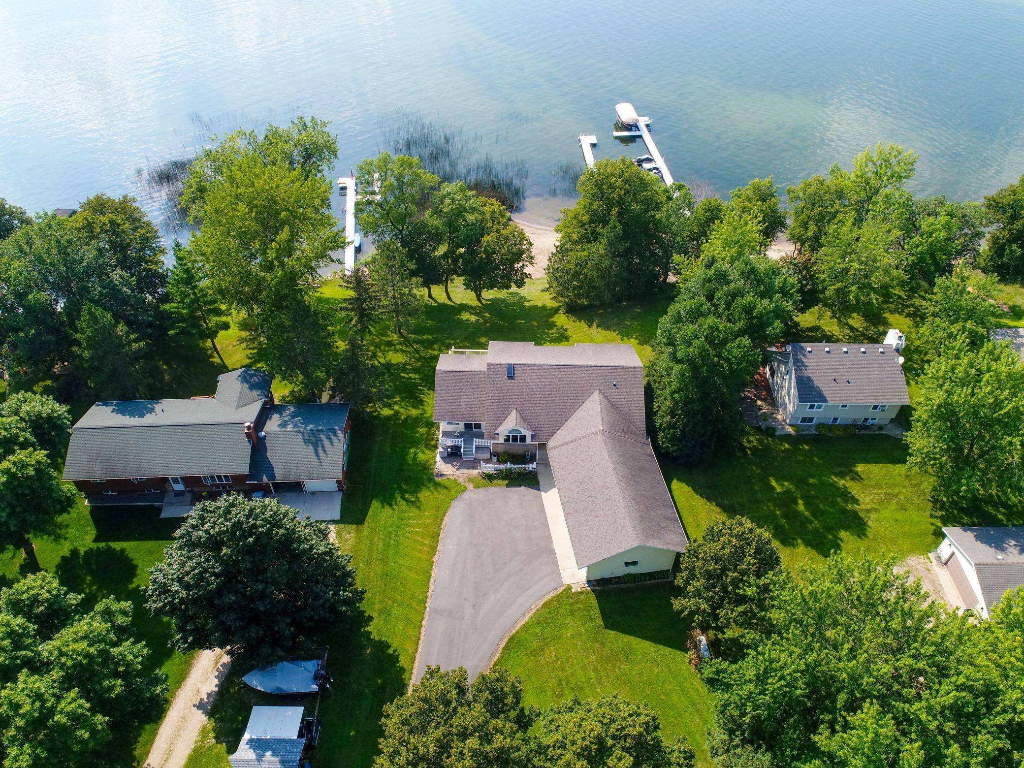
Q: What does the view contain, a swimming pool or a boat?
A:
boat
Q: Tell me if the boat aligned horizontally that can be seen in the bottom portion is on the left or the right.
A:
left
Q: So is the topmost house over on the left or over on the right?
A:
right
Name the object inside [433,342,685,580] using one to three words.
house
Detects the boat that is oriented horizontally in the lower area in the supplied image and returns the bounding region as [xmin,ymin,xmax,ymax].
[243,662,327,692]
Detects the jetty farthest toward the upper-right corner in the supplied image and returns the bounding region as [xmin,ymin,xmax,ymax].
[613,112,679,193]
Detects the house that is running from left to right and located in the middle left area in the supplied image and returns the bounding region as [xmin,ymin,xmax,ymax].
[66,366,354,513]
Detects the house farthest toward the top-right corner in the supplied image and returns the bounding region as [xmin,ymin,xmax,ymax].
[768,323,915,425]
